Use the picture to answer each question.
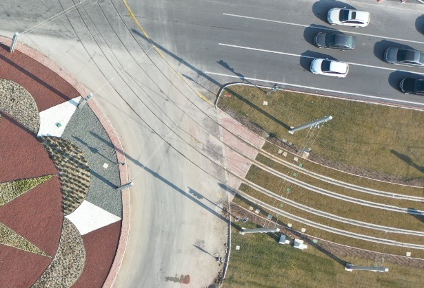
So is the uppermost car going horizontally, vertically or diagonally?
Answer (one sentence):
I'd say the uppermost car is aligned horizontally in the picture.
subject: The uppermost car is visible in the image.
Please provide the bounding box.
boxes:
[325,5,370,29]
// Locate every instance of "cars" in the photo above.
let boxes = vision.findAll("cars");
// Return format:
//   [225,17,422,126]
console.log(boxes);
[398,76,424,97]
[325,5,370,29]
[308,56,350,78]
[382,46,424,69]
[313,30,356,52]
